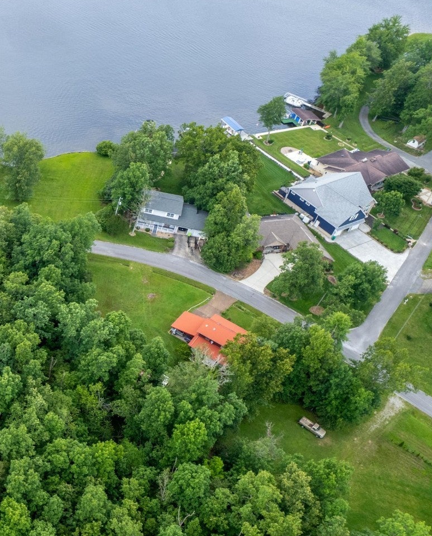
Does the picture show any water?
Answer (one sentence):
Yes, there's water in this view.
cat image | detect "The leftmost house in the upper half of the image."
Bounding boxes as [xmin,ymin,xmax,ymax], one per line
[137,190,209,239]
